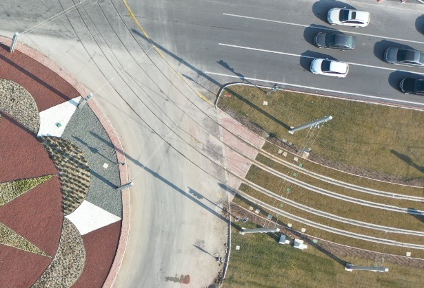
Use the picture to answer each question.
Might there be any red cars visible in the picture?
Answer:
No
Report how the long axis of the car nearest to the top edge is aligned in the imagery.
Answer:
horizontally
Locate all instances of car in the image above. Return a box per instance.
[382,46,424,69]
[398,76,424,97]
[308,56,350,78]
[313,30,356,52]
[325,5,370,29]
